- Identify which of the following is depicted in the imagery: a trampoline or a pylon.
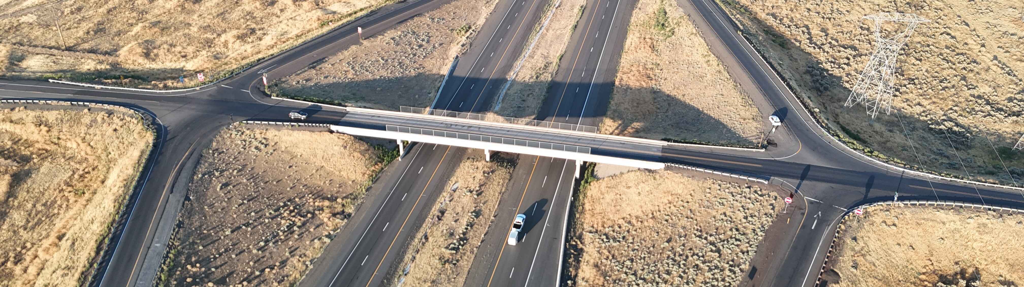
pylon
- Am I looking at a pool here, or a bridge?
bridge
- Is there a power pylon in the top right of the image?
Yes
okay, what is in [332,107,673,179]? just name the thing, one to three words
bridge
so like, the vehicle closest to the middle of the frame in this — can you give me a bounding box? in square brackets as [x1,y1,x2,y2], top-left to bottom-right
[512,216,526,235]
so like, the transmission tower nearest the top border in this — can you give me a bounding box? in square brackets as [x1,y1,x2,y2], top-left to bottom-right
[846,11,929,116]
